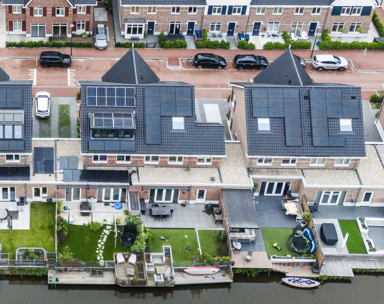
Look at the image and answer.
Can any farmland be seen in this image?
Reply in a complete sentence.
No, the picture contains no farmland.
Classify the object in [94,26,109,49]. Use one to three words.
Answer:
car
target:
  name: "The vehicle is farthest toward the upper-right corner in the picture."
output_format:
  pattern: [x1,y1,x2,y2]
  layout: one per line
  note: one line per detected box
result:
[311,53,349,70]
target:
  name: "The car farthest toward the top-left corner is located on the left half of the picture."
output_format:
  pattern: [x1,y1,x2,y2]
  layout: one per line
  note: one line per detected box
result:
[39,50,73,67]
